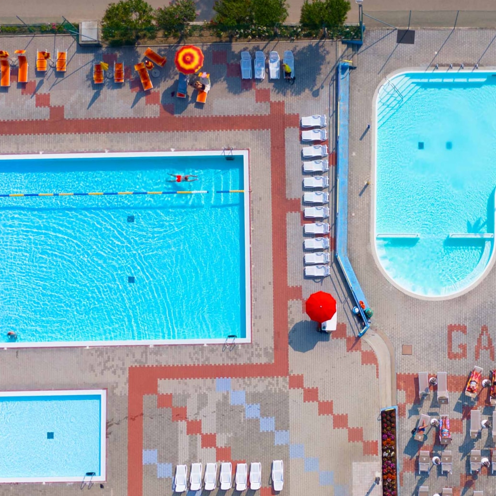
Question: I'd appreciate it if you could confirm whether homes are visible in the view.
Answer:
No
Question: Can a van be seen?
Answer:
No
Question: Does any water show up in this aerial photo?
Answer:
Yes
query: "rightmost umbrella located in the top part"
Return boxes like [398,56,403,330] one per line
[175,46,206,76]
